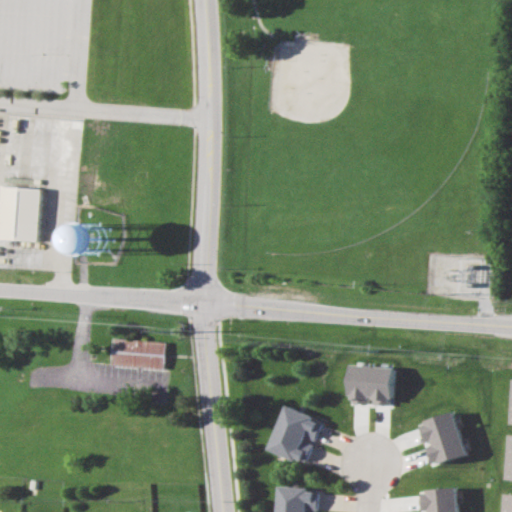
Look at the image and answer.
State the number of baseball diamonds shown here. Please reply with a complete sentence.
I count 1 baseball diamond.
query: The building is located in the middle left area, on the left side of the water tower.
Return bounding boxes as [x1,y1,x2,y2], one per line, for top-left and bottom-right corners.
[0,187,46,242]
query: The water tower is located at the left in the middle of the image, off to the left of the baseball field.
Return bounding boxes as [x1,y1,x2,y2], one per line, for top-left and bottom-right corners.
[52,221,114,258]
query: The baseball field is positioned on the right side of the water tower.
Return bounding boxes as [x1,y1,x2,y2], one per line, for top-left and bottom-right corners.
[267,34,488,255]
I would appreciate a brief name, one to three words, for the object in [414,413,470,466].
house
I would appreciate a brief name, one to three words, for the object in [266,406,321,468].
house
